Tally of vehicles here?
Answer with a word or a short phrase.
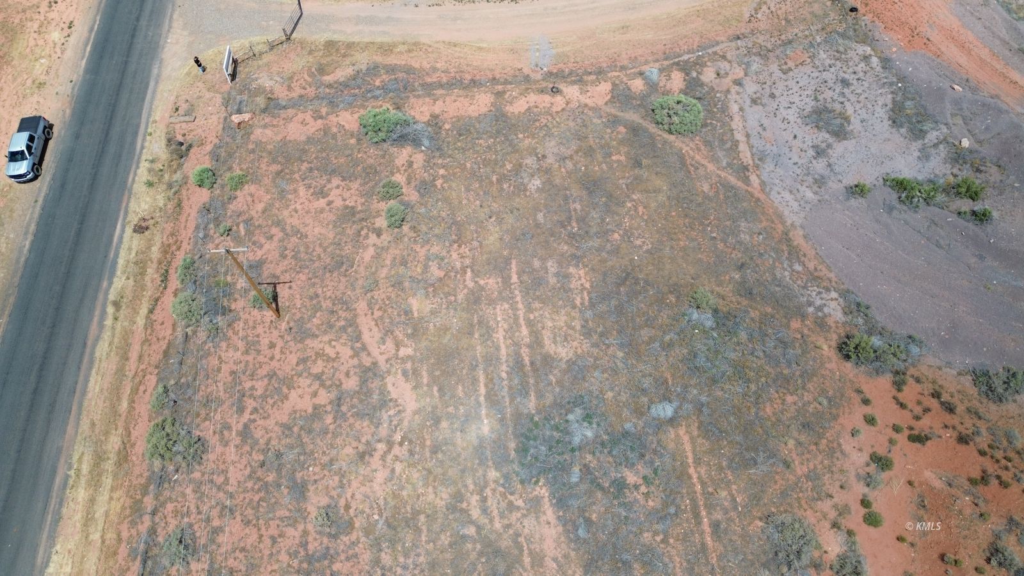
1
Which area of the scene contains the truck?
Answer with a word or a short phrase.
top left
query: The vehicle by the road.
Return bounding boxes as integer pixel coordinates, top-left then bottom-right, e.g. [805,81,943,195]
[4,116,53,182]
